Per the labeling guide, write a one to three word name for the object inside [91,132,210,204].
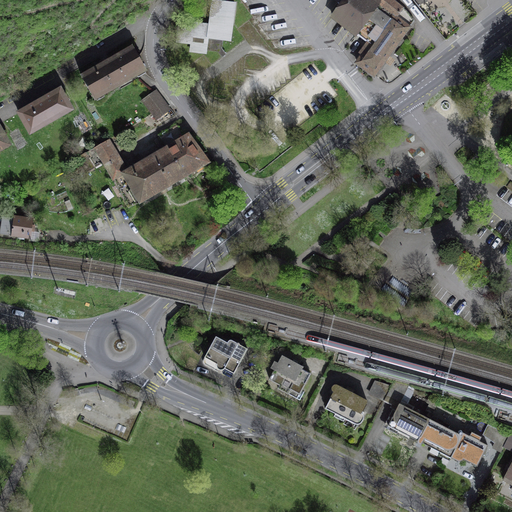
house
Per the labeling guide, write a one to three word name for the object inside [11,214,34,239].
house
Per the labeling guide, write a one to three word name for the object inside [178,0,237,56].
building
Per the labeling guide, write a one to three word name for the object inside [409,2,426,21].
vehicle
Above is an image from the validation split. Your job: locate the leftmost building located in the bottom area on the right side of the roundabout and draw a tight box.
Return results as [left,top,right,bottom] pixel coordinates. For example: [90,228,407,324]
[204,336,248,377]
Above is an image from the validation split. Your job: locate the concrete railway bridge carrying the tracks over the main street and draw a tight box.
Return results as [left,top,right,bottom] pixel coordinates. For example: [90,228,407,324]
[136,266,226,308]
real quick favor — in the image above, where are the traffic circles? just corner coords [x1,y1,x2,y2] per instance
[84,308,156,381]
